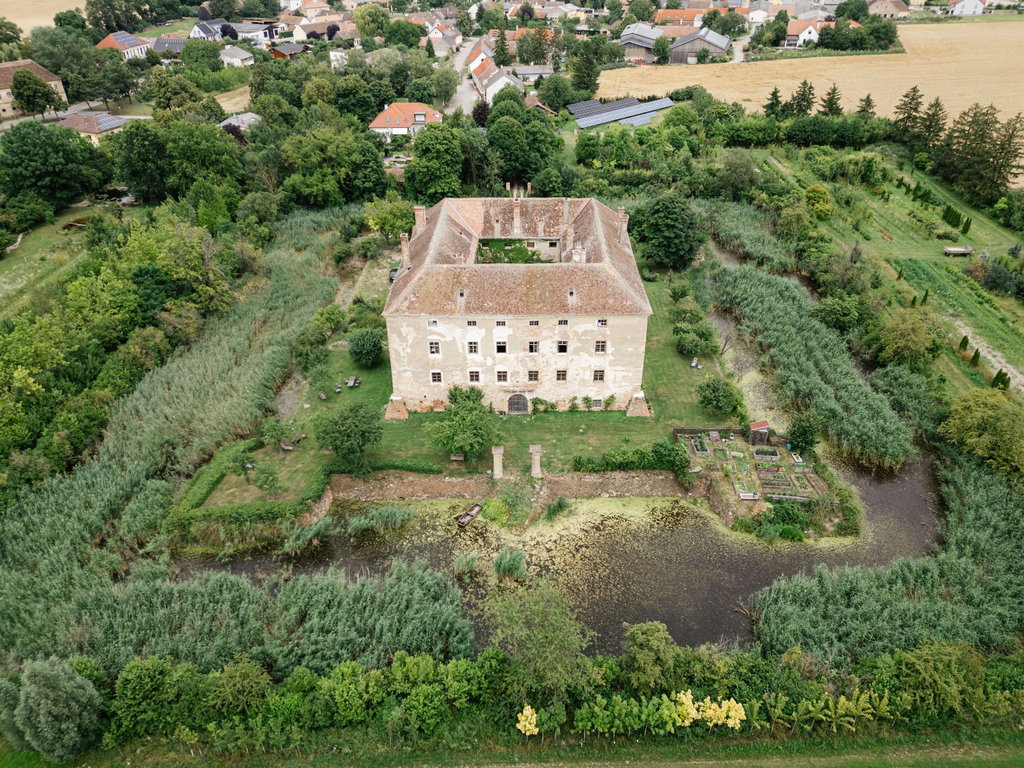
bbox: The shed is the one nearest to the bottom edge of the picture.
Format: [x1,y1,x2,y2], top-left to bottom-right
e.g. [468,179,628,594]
[750,419,774,447]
